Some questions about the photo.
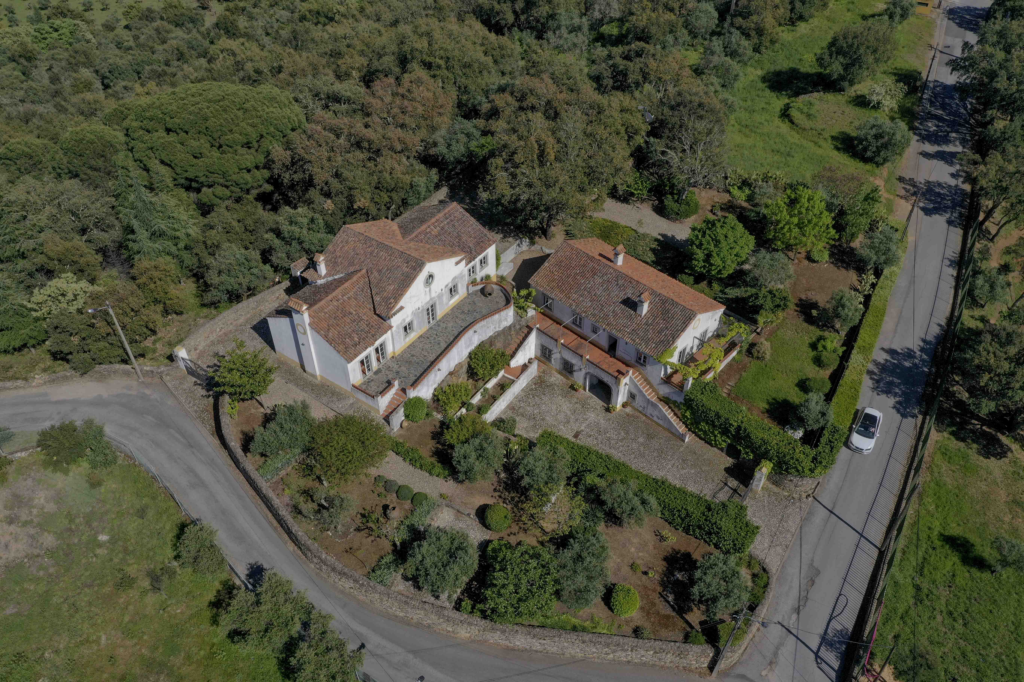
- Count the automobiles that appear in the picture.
1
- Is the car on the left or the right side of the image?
right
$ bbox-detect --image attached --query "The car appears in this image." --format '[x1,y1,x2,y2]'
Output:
[850,405,882,454]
